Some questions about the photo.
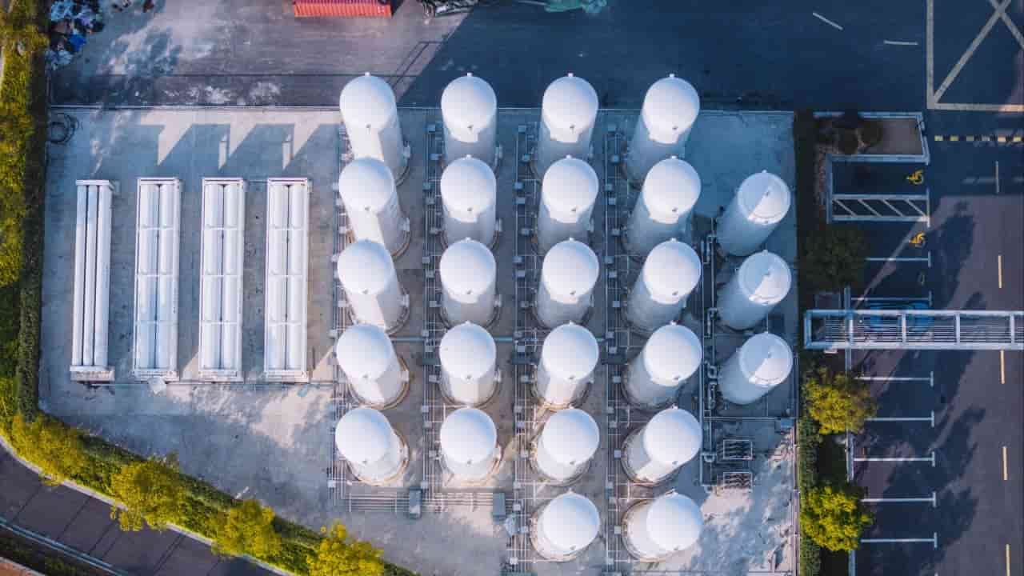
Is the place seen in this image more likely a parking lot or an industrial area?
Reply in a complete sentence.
It's an industrial area.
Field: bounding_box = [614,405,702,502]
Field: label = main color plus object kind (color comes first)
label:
white storage tank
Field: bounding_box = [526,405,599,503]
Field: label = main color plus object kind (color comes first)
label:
white storage tank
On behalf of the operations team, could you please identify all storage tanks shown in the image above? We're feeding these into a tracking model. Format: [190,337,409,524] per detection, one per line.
[614,490,703,576]
[340,73,411,183]
[432,404,501,502]
[435,74,502,201]
[526,489,600,576]
[338,237,410,336]
[614,405,702,502]
[433,321,502,426]
[619,321,702,426]
[618,156,700,276]
[337,320,409,419]
[526,74,599,202]
[618,238,701,350]
[434,237,502,350]
[618,75,700,202]
[339,155,411,258]
[712,248,794,332]
[715,329,798,407]
[526,238,599,351]
[336,404,409,501]
[712,168,794,258]
[526,156,599,275]
[434,155,502,276]
[526,405,599,503]
[526,321,599,426]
